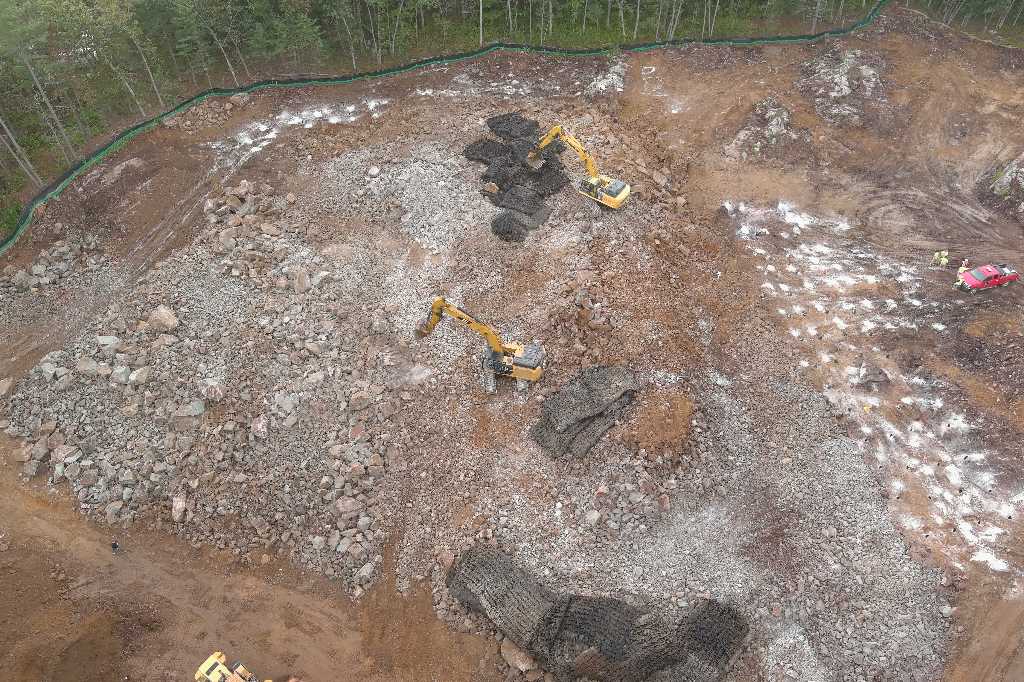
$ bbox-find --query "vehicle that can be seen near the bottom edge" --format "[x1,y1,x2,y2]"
[195,651,265,682]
